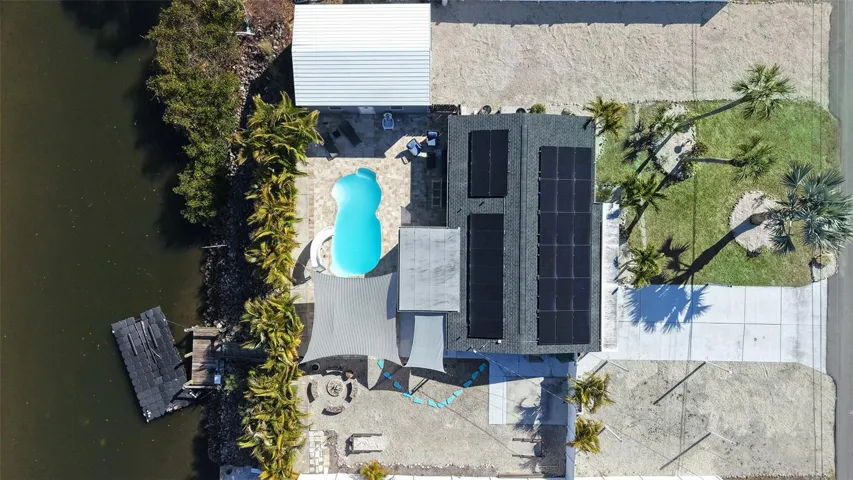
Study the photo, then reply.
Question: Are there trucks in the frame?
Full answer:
No, no truck can be seen from above.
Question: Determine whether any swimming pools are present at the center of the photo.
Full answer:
Yes, a swimming pool can be seen at the center of the photo.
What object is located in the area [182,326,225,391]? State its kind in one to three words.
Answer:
pier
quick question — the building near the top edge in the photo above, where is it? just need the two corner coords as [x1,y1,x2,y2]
[292,3,431,114]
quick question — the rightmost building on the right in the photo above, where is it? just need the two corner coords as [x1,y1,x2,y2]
[444,112,603,356]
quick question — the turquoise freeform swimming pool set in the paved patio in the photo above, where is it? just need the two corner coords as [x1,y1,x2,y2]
[328,165,384,280]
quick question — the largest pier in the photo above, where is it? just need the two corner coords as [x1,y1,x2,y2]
[113,306,197,421]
